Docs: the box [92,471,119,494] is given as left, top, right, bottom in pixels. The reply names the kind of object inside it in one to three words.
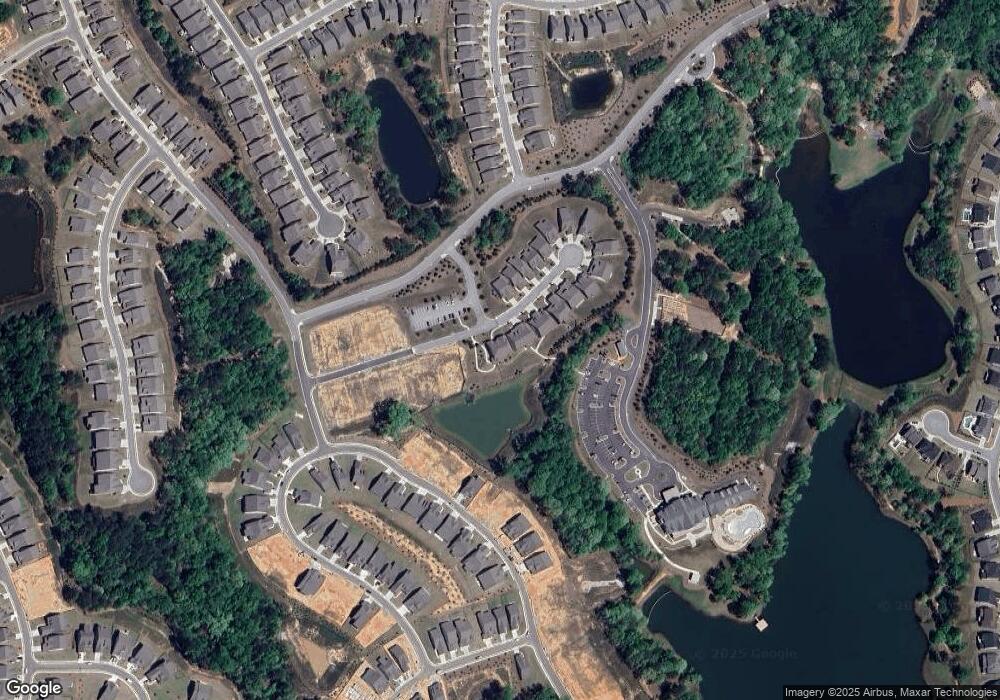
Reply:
house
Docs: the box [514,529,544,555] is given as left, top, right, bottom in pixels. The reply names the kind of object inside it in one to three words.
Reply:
house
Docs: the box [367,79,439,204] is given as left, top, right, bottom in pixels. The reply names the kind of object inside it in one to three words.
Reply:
pond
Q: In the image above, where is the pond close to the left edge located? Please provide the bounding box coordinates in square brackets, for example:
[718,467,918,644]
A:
[0,192,41,302]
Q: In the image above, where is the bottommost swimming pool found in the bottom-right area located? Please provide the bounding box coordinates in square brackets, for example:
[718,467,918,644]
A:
[712,504,766,551]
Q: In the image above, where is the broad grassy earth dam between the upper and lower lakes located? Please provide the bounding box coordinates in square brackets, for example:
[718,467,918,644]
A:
[837,369,893,408]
